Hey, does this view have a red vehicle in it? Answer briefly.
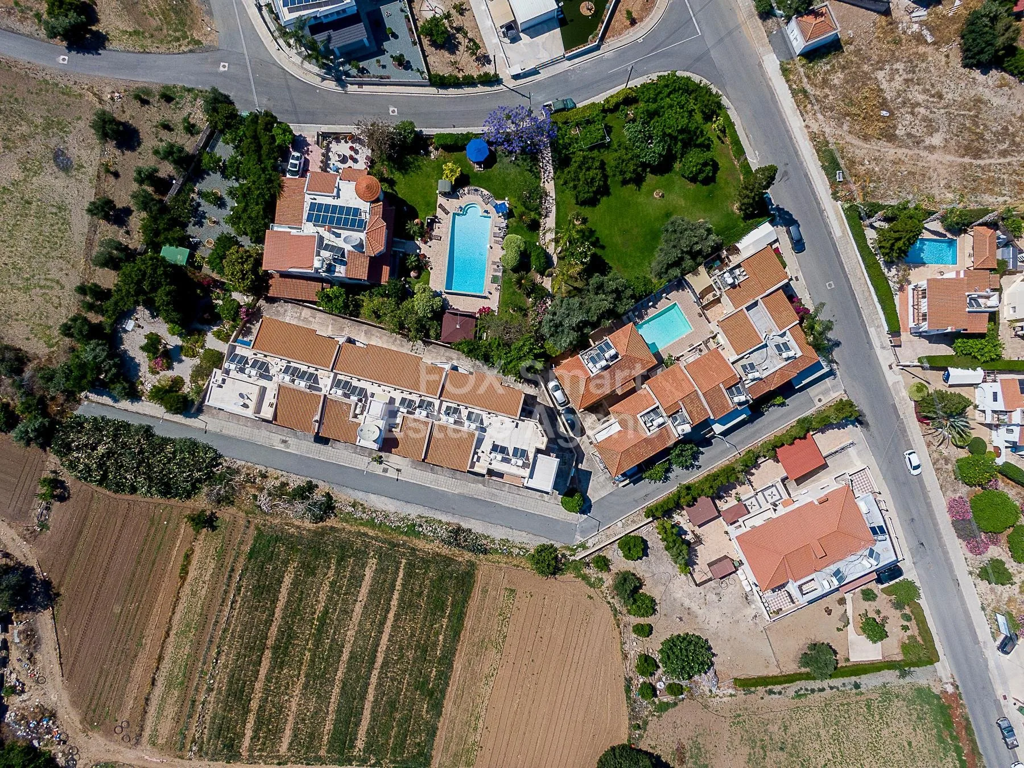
No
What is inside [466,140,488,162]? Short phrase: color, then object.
blue umbrella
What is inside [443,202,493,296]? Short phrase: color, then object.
blue swimming pool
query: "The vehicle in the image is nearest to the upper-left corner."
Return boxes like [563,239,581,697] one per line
[287,151,302,178]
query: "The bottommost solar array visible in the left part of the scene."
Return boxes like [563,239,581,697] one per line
[306,202,366,230]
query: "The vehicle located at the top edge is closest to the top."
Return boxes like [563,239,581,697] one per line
[501,21,516,42]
